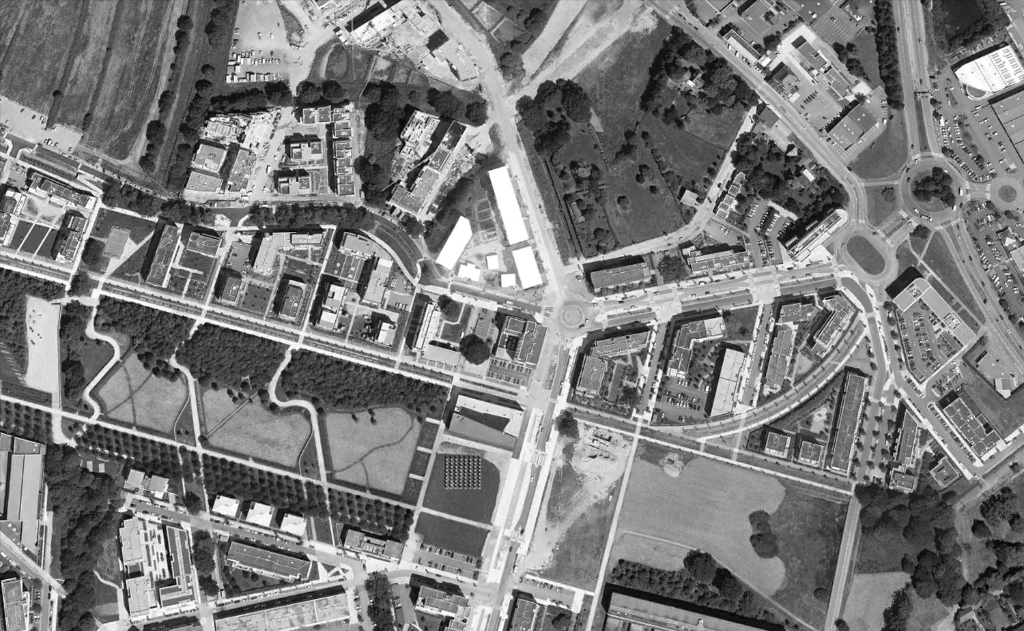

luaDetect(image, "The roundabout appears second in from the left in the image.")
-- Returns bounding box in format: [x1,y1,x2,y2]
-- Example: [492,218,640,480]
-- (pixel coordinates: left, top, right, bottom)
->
[836,224,896,286]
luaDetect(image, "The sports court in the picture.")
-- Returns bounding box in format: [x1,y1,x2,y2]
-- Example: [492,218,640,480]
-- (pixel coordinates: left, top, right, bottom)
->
[103,225,131,259]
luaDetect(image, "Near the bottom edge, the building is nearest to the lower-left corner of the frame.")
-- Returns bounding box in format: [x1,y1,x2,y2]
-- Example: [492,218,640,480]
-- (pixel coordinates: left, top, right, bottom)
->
[1,579,30,631]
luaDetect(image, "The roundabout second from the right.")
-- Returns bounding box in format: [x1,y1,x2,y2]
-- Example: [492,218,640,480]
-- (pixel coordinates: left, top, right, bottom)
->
[896,153,970,226]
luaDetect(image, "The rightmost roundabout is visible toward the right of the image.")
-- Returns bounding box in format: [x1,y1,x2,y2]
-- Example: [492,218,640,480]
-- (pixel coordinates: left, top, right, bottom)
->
[989,175,1024,212]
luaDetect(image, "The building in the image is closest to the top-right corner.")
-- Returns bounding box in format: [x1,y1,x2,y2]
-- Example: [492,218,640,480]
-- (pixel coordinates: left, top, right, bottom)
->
[955,45,1024,93]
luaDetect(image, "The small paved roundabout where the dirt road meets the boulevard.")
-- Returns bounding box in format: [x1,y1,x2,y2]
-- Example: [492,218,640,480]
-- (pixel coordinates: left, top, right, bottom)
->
[551,295,594,337]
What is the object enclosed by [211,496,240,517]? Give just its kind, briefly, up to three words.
house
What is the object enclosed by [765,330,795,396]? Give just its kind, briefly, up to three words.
building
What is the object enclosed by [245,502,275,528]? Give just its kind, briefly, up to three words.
house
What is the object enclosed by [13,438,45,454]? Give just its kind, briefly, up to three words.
building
